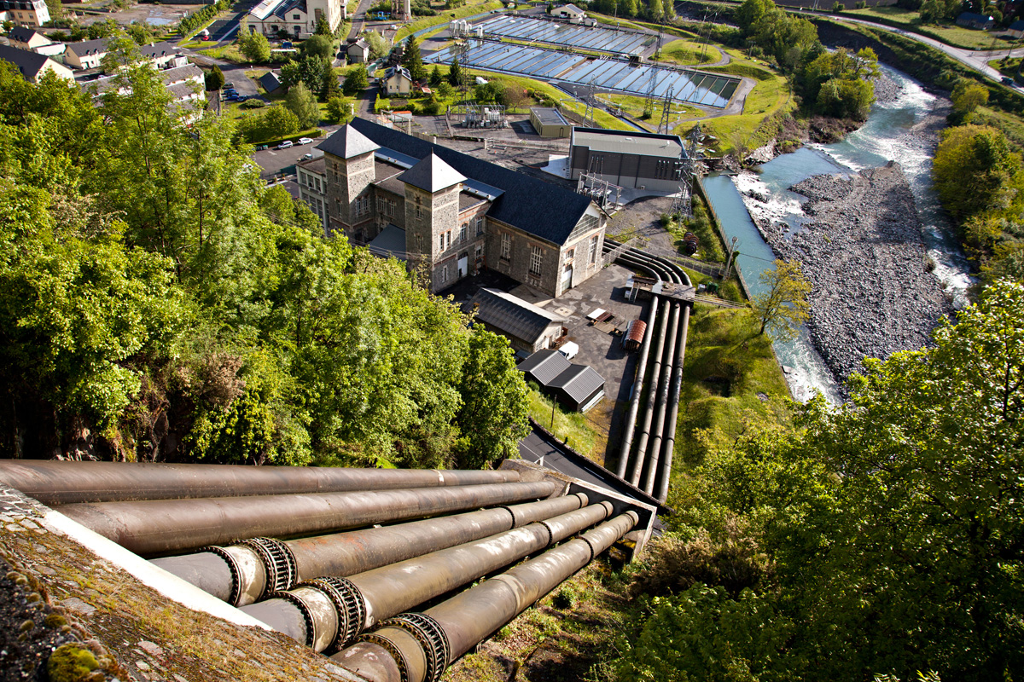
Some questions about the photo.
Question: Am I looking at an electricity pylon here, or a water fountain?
electricity pylon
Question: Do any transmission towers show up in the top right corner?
Yes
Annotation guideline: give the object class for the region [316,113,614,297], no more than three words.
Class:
building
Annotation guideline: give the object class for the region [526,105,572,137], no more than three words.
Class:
building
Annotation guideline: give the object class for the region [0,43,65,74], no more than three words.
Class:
house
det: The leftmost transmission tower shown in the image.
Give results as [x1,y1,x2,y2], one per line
[455,32,474,103]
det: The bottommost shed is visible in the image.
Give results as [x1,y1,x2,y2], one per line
[515,352,607,423]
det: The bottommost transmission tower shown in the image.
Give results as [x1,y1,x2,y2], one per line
[674,125,715,229]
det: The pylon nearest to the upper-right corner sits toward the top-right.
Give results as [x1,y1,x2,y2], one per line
[976,36,1005,71]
